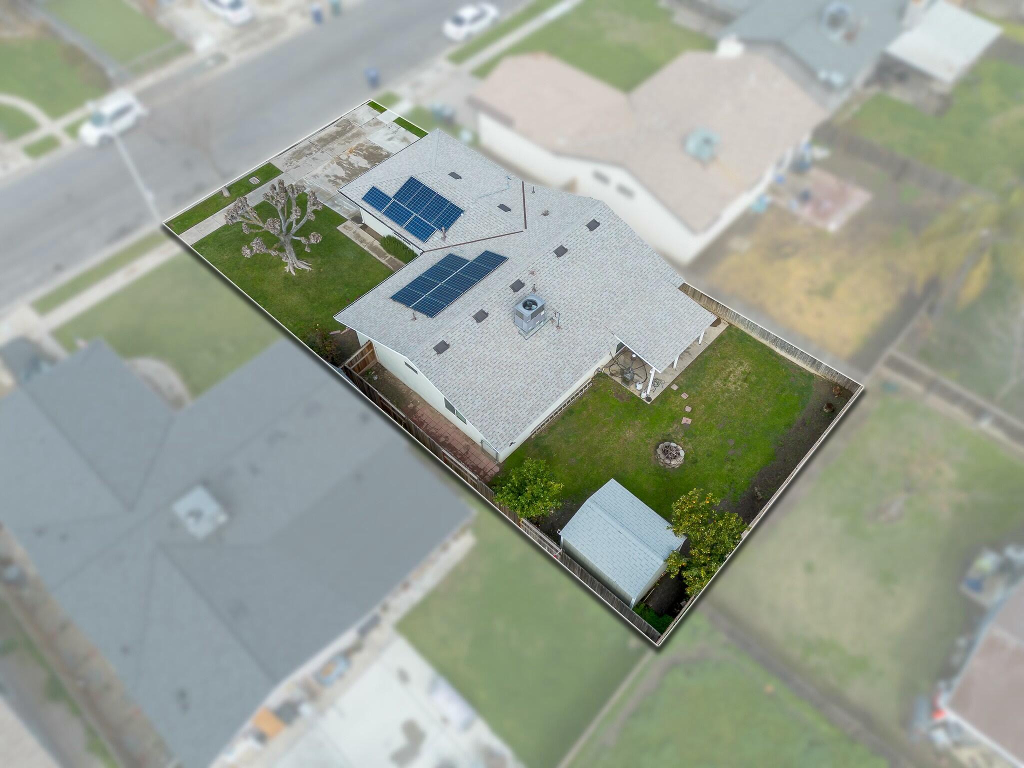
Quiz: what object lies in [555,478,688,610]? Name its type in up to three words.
shed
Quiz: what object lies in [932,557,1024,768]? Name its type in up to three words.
house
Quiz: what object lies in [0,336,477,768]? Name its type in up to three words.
house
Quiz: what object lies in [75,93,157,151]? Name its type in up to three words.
car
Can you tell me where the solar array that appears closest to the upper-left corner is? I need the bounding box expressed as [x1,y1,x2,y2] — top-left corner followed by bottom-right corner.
[361,176,464,243]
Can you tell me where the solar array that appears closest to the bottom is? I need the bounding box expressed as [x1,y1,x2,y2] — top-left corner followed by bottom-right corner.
[390,250,507,317]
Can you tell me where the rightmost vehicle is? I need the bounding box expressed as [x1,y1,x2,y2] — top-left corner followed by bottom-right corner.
[442,6,499,45]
